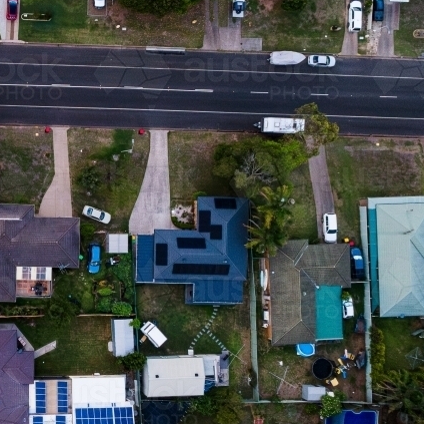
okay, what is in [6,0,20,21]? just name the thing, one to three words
vehicle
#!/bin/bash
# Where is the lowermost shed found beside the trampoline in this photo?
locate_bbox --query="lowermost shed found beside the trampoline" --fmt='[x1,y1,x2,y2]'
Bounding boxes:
[297,383,327,401]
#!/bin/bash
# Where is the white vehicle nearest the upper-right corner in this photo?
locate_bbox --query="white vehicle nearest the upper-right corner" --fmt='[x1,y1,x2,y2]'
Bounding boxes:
[345,1,362,32]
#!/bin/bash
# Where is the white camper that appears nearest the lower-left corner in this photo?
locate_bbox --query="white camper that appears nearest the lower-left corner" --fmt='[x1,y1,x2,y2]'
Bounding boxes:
[139,320,165,346]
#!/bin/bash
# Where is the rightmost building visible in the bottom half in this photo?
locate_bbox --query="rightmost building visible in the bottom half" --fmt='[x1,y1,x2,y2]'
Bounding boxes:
[361,197,424,320]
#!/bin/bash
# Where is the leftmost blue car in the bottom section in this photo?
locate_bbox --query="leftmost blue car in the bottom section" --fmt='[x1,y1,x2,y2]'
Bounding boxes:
[87,242,102,273]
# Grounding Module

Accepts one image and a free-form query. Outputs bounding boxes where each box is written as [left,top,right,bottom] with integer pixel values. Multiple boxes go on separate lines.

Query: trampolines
[311,358,333,379]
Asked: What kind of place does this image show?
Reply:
residential area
